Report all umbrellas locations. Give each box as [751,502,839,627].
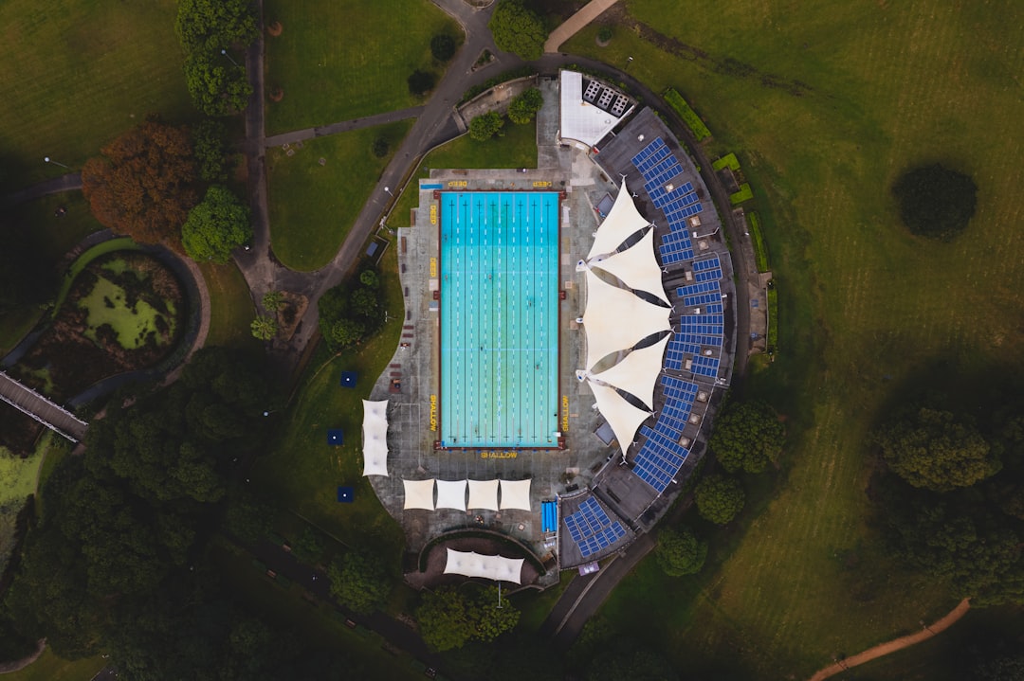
[328,429,344,445]
[337,486,354,503]
[340,370,358,388]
